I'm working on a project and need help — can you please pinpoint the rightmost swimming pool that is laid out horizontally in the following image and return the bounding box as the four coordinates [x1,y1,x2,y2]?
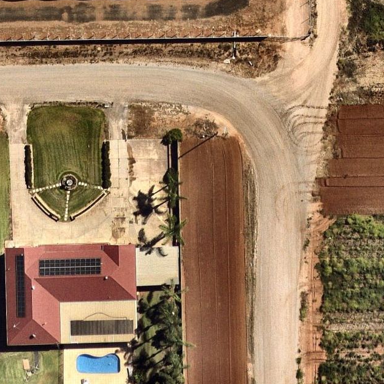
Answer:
[77,353,121,374]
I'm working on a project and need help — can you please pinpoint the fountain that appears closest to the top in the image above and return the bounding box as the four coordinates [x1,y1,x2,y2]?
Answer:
[61,174,77,191]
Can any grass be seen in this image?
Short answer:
Yes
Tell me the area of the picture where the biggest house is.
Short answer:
bottom left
